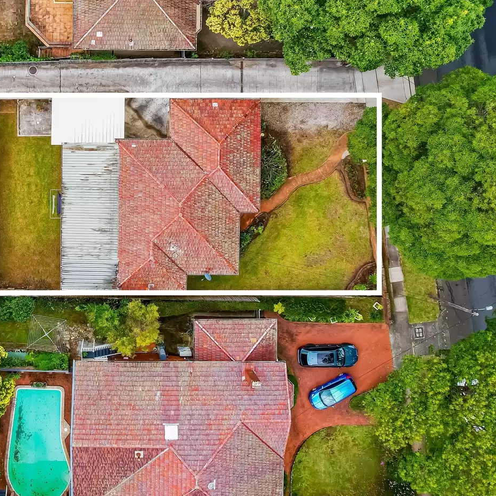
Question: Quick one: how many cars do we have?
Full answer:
The picture shows 2 cars.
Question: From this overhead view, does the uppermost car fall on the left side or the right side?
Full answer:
The uppermost car is on the right side of the image.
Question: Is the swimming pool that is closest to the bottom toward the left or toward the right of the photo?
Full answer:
It is on the left.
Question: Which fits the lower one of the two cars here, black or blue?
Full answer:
The lower one of the two cars looks blue in the image.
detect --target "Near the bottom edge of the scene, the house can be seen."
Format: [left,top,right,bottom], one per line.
[71,355,295,496]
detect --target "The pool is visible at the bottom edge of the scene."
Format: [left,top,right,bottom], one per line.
[2,384,71,496]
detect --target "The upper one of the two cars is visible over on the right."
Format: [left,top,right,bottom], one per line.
[296,341,356,371]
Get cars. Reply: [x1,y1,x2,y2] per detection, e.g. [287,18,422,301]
[296,341,356,371]
[303,369,359,409]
